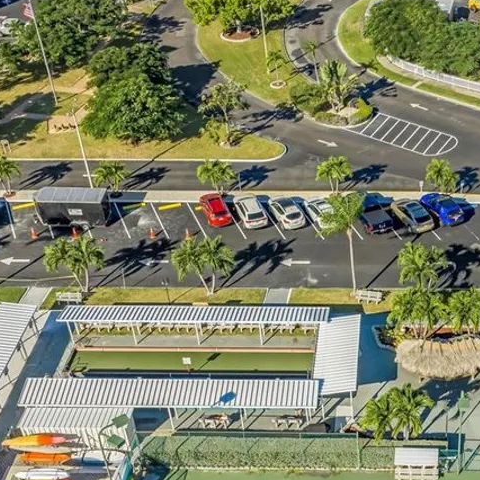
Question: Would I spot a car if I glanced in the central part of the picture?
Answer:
Yes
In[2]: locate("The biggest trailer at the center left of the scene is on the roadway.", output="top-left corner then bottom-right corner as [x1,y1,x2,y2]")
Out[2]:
[28,180,106,223]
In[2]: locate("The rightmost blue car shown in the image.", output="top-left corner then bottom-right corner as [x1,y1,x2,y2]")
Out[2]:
[423,195,464,229]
